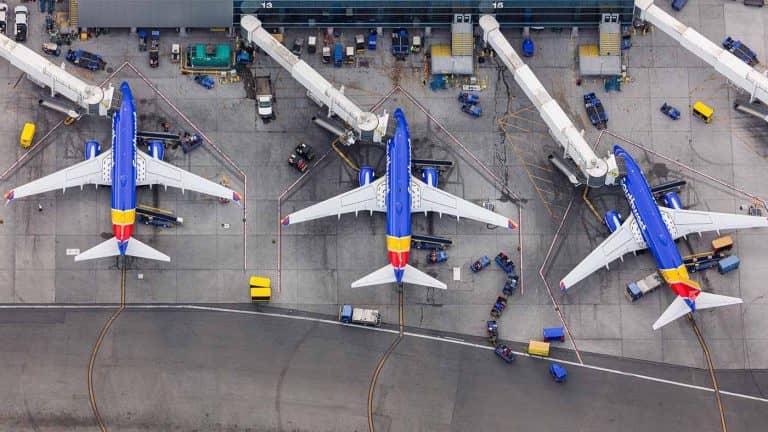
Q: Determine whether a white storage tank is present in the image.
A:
No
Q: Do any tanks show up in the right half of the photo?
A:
No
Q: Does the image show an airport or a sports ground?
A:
airport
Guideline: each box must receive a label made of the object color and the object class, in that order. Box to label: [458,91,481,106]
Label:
blue work vehicle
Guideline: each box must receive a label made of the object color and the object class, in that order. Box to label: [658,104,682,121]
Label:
blue work vehicle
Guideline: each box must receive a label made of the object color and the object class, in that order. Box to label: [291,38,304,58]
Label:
gray vehicle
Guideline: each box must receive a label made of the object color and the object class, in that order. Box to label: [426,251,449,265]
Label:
blue vehicle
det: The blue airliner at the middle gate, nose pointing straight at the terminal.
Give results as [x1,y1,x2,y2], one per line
[279,108,519,289]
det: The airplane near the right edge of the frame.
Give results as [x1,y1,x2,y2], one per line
[559,146,768,332]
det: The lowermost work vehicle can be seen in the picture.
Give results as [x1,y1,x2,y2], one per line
[547,359,568,383]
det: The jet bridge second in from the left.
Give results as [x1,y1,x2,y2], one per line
[239,13,394,144]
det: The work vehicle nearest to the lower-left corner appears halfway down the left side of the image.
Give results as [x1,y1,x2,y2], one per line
[136,204,185,231]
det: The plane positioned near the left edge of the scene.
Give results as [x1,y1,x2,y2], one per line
[4,82,242,262]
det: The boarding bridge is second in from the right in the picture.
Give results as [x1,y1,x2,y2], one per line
[479,13,627,188]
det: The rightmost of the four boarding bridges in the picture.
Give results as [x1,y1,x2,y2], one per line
[635,0,768,113]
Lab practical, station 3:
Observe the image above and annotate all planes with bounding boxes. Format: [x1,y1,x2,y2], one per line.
[279,108,519,289]
[559,146,768,332]
[4,82,242,262]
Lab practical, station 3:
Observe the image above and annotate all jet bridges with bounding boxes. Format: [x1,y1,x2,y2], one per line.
[635,0,768,113]
[239,13,394,144]
[0,27,122,118]
[479,13,627,188]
